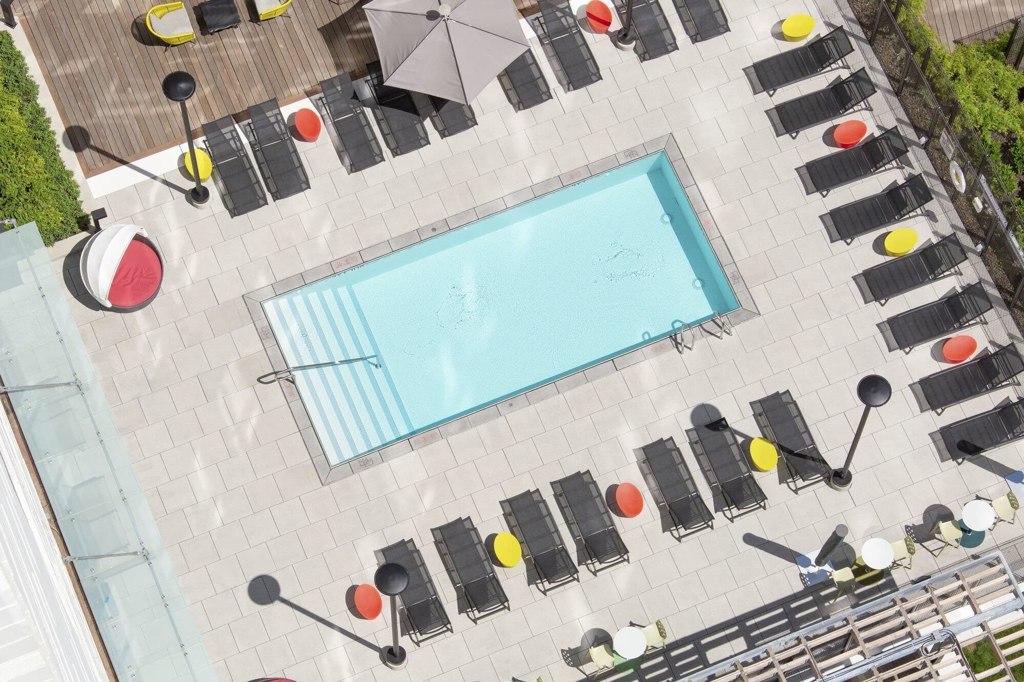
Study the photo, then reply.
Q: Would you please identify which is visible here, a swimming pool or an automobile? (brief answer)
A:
swimming pool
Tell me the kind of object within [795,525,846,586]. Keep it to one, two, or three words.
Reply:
umbrella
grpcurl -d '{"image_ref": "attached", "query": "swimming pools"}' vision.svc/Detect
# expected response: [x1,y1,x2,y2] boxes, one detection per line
[244,134,758,483]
